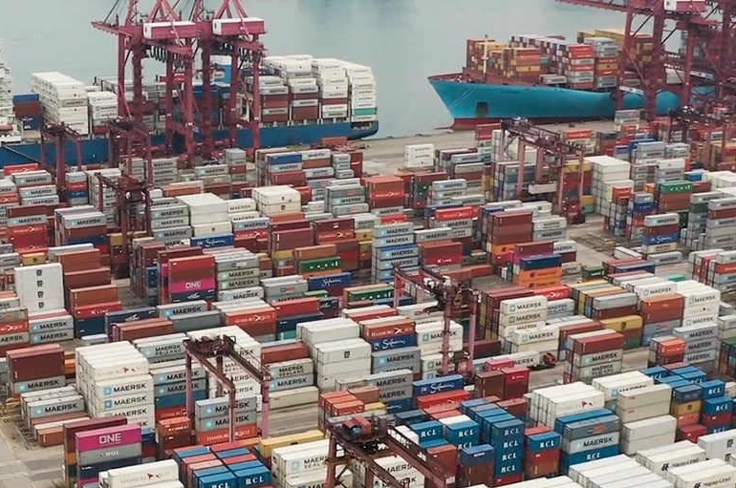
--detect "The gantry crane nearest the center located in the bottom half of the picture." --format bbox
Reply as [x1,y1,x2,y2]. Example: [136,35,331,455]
[382,262,491,370]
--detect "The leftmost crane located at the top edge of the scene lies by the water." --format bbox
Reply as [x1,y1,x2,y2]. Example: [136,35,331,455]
[118,0,206,169]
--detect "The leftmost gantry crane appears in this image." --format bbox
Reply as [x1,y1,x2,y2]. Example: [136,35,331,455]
[63,135,116,203]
